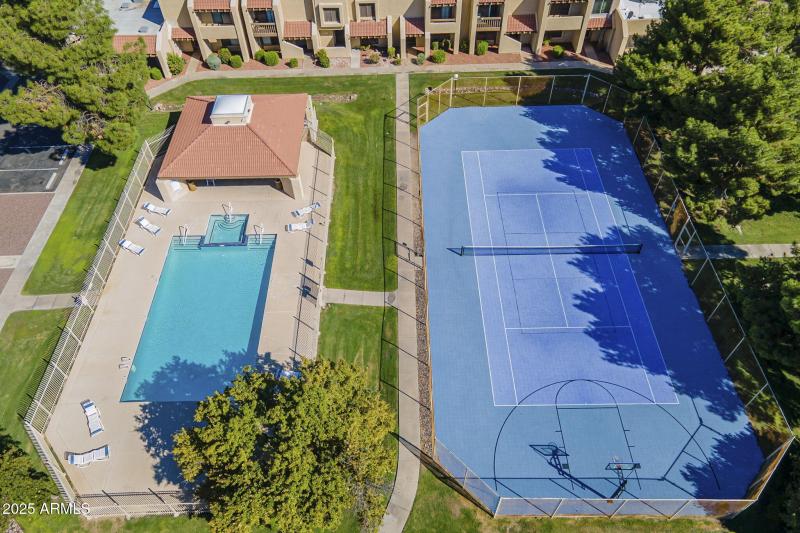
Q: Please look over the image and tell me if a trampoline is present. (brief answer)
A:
No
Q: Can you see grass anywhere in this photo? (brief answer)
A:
Yes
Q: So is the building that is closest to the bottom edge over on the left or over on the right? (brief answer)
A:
left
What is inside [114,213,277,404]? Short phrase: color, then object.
blue swimming pool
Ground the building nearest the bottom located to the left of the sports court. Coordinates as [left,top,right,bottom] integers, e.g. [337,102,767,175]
[155,91,320,202]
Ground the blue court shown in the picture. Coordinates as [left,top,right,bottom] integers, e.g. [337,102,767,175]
[417,104,764,520]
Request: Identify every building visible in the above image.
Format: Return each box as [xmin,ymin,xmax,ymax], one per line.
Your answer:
[24,0,670,77]
[155,91,320,202]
